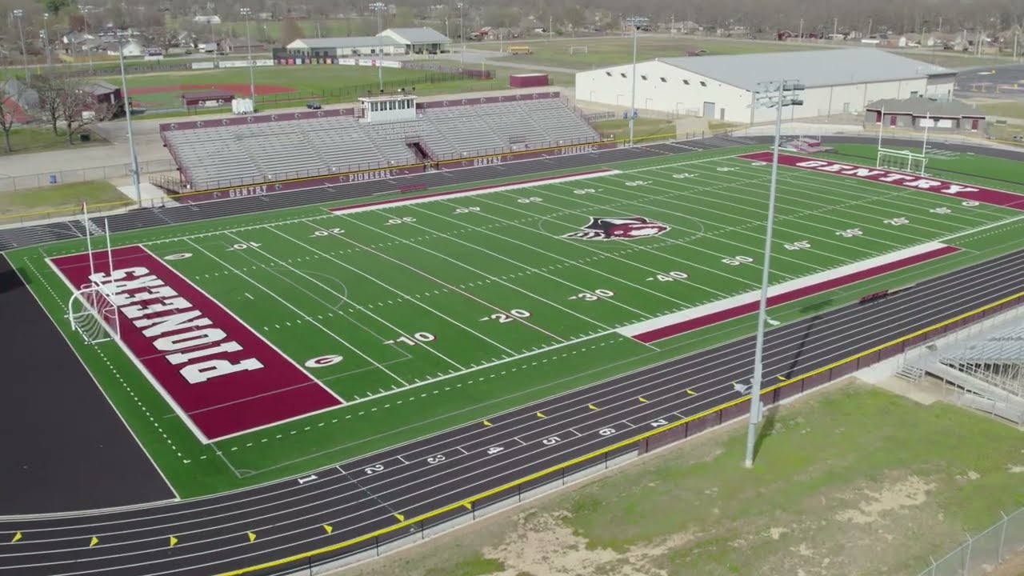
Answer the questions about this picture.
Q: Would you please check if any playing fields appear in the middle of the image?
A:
No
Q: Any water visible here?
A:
No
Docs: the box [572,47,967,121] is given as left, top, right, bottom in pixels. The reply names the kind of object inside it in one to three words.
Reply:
building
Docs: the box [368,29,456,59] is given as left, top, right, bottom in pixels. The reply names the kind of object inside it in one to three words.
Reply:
building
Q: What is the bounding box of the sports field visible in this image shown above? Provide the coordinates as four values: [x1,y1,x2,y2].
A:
[512,38,852,67]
